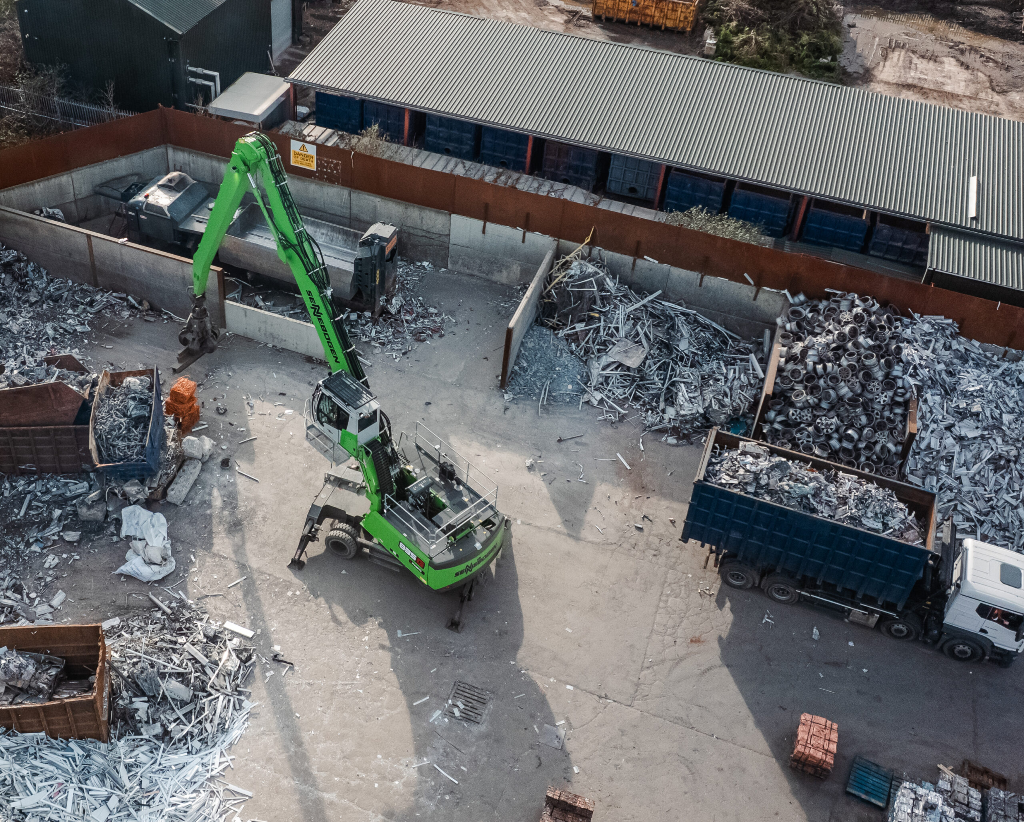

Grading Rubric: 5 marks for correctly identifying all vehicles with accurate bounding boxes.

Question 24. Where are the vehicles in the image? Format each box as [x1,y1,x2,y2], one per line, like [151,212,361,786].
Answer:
[686,523,1024,672]
[188,126,520,646]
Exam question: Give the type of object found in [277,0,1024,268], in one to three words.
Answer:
shed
